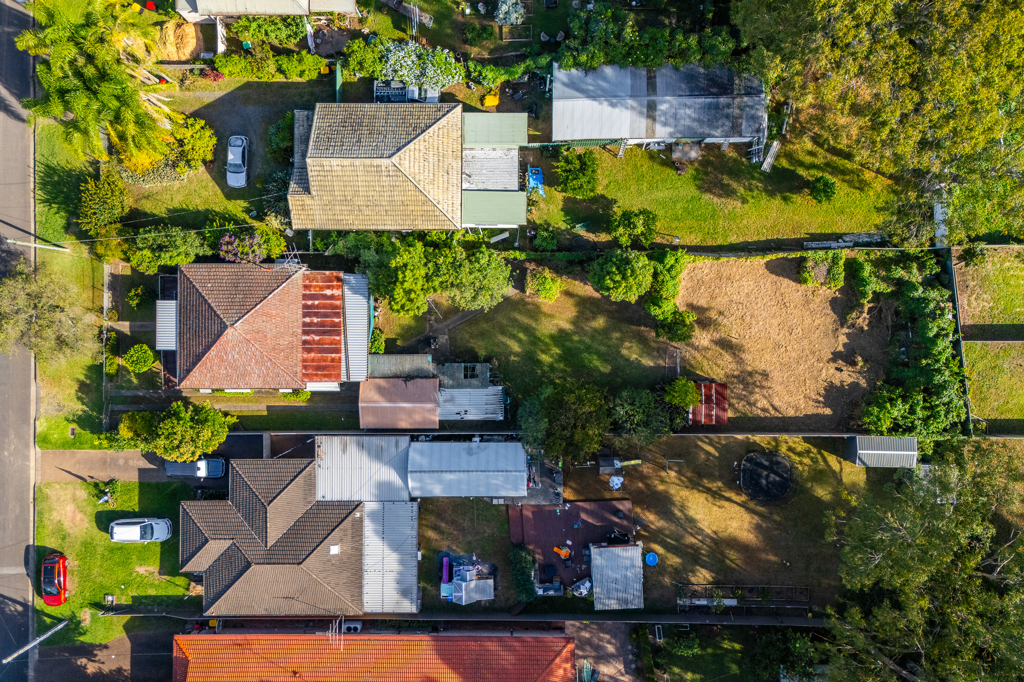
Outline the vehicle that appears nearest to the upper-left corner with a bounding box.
[223,135,250,188]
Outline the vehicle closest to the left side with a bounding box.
[37,553,68,604]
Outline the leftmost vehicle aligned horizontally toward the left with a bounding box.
[110,517,172,545]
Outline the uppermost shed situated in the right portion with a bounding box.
[552,63,769,149]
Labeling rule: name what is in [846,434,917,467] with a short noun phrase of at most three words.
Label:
shed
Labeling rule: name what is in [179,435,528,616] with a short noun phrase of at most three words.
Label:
house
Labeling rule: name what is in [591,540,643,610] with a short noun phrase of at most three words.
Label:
shed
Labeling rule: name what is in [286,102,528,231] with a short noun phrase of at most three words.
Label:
house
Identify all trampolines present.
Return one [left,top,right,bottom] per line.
[737,451,800,503]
